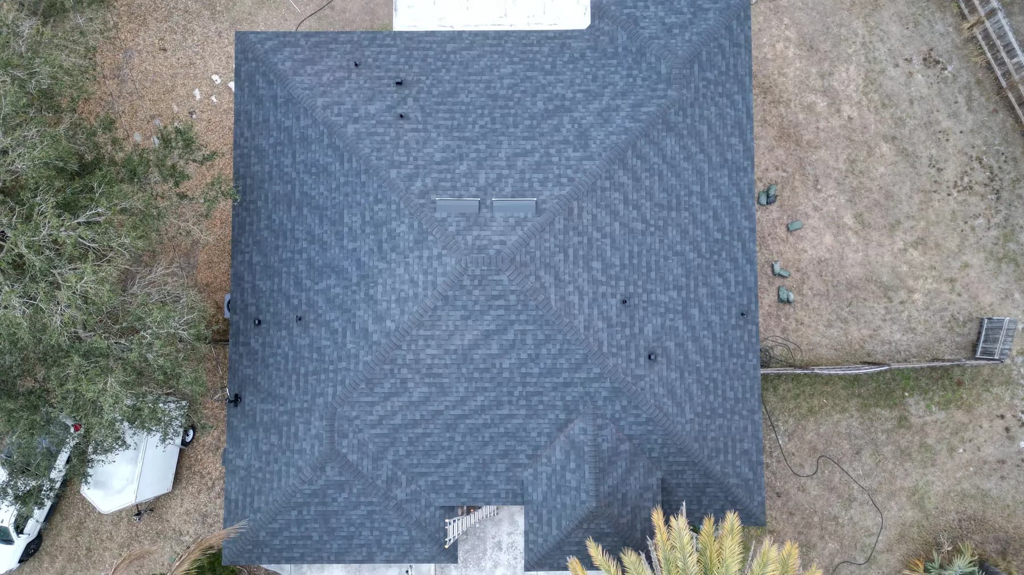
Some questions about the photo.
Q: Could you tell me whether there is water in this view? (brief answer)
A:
No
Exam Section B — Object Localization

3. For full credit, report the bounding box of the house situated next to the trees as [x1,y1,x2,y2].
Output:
[221,0,765,573]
